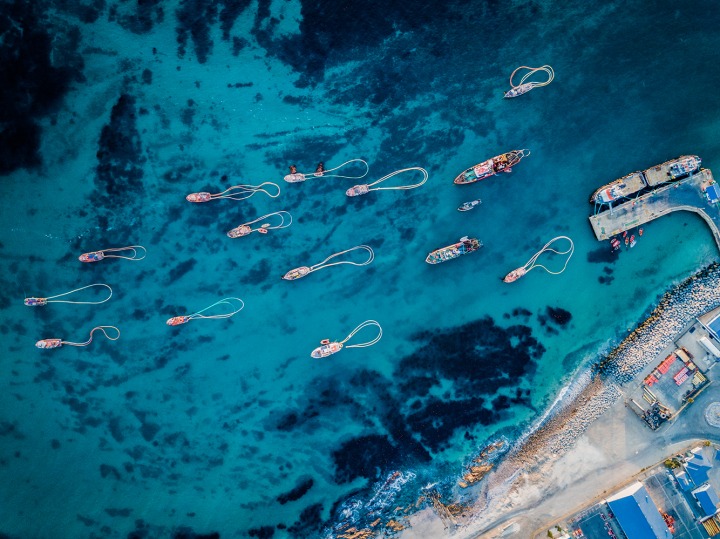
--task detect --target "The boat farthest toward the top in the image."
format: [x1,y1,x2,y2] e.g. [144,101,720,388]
[505,82,536,98]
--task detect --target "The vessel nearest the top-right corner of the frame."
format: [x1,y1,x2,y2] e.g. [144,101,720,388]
[646,155,707,186]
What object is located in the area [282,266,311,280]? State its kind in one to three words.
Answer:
boat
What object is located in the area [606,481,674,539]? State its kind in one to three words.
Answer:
building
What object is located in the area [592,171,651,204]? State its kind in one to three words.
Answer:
ship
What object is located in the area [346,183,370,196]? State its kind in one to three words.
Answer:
boat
